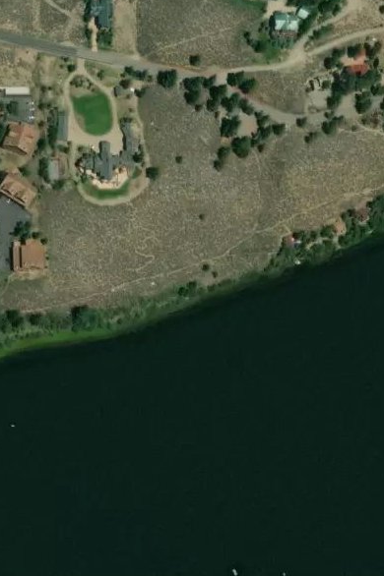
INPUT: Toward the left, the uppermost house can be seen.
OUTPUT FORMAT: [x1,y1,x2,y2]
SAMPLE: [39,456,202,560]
[90,0,111,30]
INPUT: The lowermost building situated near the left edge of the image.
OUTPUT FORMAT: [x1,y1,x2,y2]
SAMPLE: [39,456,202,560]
[13,238,44,276]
